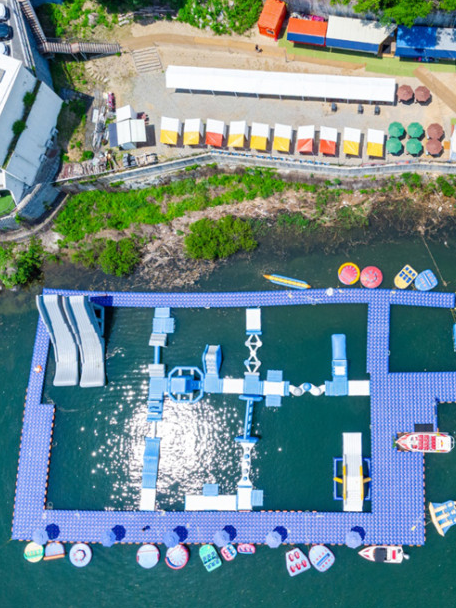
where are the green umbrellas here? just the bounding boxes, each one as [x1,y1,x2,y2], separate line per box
[405,140,422,156]
[406,123,423,140]
[387,123,404,140]
[386,139,402,156]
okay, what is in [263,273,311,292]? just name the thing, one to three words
boat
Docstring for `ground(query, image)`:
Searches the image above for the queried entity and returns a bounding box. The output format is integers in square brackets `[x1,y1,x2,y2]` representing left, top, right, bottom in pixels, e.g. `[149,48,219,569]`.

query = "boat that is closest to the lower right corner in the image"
[361,546,408,562]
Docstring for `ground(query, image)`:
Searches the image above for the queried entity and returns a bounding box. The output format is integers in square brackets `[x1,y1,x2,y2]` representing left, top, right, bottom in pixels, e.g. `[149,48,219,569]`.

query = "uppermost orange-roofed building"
[287,19,327,51]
